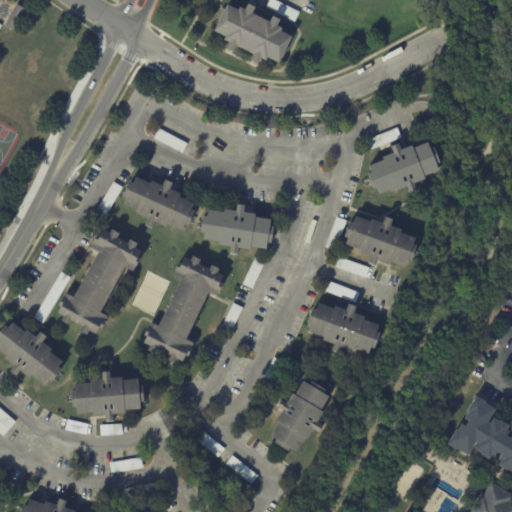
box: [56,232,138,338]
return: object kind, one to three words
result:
building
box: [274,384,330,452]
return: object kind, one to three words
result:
building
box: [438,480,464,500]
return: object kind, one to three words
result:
swimming pool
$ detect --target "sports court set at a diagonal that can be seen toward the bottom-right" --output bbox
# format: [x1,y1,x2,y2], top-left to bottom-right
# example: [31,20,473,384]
[397,464,424,500]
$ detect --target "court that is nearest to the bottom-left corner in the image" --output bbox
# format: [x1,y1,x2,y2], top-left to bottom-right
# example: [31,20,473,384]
[132,270,170,316]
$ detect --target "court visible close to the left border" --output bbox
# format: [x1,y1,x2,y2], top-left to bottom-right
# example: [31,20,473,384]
[0,120,24,175]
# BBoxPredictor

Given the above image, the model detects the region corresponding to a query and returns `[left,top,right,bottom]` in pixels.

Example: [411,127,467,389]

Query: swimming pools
[438,480,464,500]
[437,497,458,512]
